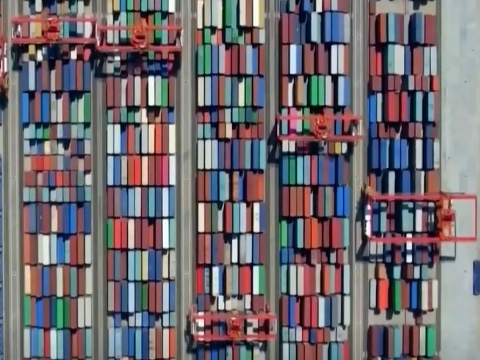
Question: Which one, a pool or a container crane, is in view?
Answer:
container crane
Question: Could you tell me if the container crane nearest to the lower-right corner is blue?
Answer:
No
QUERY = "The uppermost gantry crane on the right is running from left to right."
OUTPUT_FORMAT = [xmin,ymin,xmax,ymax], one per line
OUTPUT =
[271,105,366,148]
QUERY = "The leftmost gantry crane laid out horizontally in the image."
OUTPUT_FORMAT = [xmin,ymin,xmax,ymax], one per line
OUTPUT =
[7,12,101,55]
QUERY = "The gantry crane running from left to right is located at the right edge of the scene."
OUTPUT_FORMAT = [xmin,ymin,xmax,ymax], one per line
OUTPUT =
[357,188,477,245]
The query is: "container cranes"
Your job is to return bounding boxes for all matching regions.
[7,12,101,55]
[271,105,366,148]
[357,188,477,245]
[93,19,185,63]
[188,297,279,344]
